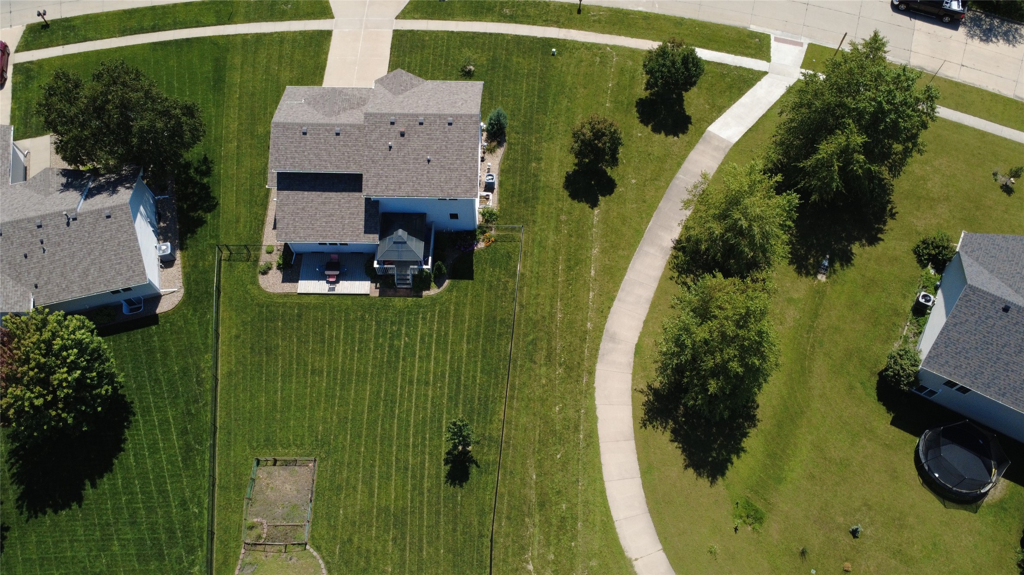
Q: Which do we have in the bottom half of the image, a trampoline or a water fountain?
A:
trampoline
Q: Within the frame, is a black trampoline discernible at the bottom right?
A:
Yes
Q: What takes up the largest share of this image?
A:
grass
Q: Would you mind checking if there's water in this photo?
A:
No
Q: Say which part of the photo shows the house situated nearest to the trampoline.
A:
right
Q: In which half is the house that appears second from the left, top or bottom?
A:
top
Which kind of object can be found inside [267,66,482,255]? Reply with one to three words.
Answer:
house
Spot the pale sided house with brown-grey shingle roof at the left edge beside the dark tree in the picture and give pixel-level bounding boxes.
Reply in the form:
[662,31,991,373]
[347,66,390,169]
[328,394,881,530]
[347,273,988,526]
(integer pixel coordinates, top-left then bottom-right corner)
[0,125,177,331]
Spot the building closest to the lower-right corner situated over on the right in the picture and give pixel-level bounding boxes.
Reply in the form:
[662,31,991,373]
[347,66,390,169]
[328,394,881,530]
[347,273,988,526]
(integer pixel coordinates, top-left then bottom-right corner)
[903,230,1024,442]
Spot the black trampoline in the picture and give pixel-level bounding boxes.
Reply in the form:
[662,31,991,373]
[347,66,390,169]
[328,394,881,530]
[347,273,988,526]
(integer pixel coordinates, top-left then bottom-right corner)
[914,420,1011,503]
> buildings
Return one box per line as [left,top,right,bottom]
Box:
[903,230,1024,442]
[267,66,482,255]
[0,125,177,331]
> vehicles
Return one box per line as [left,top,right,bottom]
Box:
[0,38,12,86]
[888,0,970,26]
